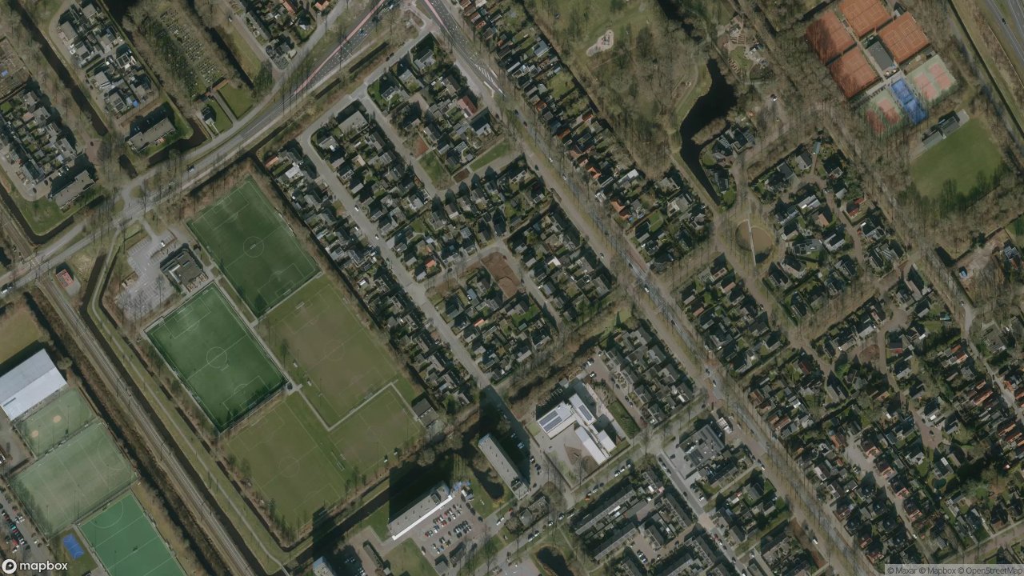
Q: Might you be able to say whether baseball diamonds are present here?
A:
Yes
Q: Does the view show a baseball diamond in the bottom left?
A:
Yes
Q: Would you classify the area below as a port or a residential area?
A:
residential area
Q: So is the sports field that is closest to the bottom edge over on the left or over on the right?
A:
left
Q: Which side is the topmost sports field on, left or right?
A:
right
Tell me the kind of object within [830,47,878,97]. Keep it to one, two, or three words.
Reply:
tennis court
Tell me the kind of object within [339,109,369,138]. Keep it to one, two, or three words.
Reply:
building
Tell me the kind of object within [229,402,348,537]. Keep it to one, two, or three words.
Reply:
soccer field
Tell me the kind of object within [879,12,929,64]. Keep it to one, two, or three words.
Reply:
tennis court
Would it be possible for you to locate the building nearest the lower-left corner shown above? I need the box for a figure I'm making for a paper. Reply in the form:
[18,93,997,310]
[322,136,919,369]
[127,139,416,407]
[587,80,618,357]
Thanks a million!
[0,348,68,421]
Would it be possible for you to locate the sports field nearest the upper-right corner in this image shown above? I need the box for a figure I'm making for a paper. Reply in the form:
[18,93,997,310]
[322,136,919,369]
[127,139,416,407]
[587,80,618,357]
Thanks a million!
[911,124,1002,201]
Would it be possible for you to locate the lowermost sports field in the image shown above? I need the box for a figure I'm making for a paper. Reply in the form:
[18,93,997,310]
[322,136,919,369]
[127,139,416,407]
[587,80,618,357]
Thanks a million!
[80,493,188,576]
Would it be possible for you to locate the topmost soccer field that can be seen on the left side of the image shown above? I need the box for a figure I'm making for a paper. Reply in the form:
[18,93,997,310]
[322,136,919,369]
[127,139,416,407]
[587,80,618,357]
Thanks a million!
[189,177,320,318]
